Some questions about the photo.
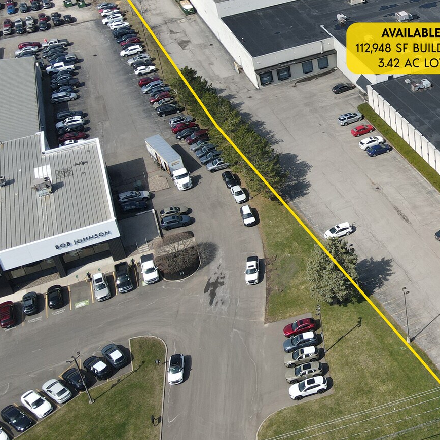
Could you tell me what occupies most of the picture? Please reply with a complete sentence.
Most of the picture is covered by paved ground.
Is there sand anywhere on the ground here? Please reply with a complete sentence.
No, the scene doesn't show any sand.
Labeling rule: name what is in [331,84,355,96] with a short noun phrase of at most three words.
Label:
vehicle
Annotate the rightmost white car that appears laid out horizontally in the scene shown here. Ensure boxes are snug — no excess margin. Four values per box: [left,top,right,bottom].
[357,137,385,152]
